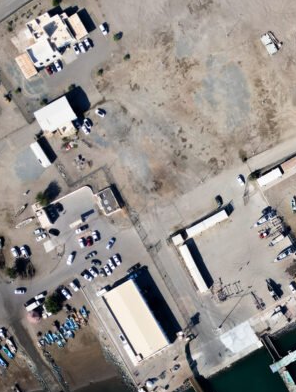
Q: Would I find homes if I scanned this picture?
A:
Yes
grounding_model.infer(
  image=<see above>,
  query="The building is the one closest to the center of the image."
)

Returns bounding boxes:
[97,187,125,216]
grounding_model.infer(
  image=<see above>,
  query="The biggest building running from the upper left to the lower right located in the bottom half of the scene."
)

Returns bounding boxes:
[103,277,171,361]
